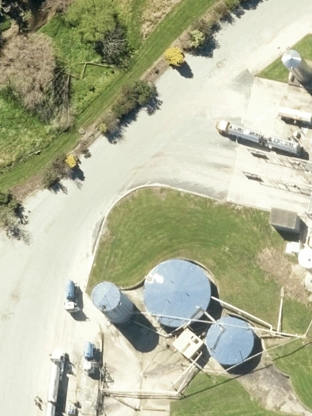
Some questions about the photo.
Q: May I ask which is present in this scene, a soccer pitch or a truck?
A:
truck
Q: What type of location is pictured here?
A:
industrial area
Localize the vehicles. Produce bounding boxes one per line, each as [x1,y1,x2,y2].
[86,340,99,374]
[216,118,307,159]
[67,403,81,416]
[46,349,65,416]
[279,110,312,127]
[66,280,80,312]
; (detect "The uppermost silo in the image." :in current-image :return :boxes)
[283,50,312,86]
